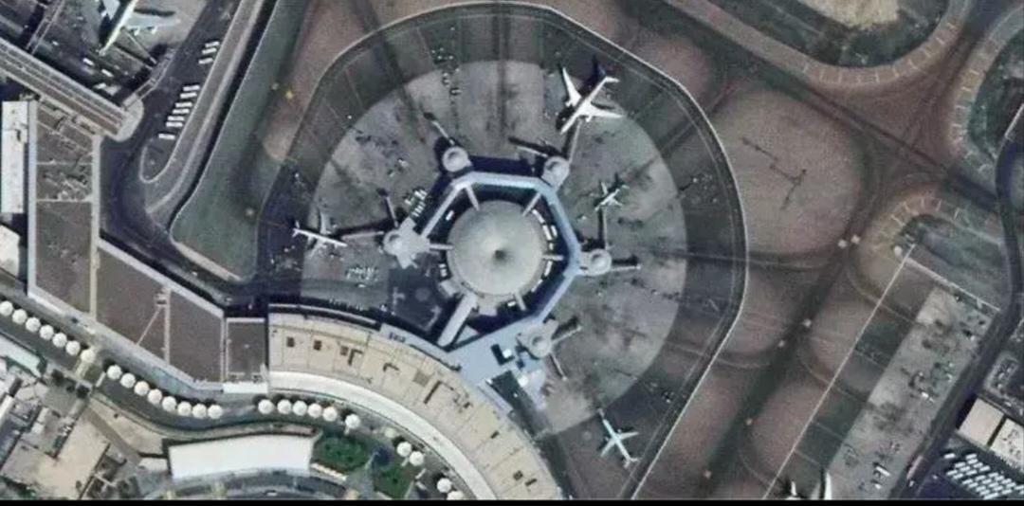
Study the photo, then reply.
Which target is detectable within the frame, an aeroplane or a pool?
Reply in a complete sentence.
It is an aeroplane that can be seen here.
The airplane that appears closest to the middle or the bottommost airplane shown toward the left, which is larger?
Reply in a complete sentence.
The bottommost airplane shown toward the left is larger than the airplane that appears closest to the middle.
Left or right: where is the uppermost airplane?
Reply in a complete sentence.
It is on the left.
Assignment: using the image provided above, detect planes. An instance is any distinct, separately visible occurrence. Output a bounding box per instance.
[101,0,179,54]
[595,179,628,210]
[289,212,348,259]
[561,68,625,134]
[600,419,637,464]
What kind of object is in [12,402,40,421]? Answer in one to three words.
house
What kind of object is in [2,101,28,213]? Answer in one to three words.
building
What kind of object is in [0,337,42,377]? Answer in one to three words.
building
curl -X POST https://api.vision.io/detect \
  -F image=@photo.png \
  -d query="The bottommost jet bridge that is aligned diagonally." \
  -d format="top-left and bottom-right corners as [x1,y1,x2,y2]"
[547,352,569,379]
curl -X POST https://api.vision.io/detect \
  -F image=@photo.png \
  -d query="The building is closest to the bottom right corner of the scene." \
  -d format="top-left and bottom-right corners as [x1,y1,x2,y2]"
[989,419,1024,471]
